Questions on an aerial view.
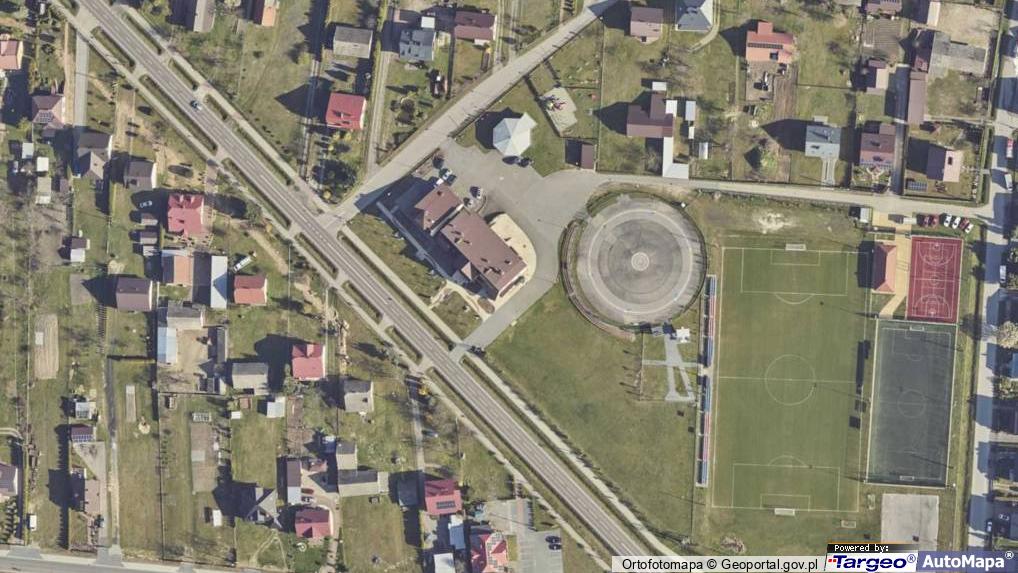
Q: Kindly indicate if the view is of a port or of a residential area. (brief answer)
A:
residential area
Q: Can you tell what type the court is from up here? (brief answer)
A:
basketball court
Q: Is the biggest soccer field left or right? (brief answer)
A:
right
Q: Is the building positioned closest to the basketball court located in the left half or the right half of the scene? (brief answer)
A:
right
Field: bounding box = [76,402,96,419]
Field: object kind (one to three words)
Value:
greenhouse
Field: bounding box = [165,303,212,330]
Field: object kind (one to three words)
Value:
house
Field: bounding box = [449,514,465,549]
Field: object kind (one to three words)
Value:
shed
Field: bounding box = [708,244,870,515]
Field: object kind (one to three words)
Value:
soccer field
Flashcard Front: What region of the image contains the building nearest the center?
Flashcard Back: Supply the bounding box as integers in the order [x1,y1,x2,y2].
[412,182,526,290]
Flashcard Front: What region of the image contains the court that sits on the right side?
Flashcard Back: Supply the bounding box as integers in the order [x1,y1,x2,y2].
[906,236,963,325]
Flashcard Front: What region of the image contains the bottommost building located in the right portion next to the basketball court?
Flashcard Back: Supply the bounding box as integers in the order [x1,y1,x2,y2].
[873,242,897,293]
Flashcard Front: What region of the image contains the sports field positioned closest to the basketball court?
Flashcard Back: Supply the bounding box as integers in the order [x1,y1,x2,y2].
[869,320,957,486]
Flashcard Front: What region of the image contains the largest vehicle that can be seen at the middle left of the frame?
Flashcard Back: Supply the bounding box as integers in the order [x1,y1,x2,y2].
[232,256,254,274]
